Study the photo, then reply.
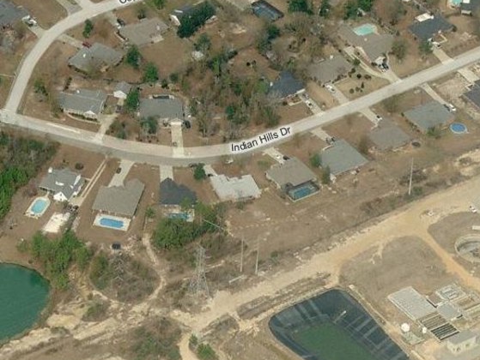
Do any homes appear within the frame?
Yes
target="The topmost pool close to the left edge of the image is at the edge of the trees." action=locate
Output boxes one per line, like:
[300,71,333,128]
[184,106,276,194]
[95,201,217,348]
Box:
[23,196,54,217]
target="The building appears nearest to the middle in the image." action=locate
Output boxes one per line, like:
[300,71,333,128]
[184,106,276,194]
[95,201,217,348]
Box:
[211,174,261,204]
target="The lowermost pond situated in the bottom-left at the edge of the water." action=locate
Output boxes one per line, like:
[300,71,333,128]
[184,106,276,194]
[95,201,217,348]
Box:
[0,263,50,347]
